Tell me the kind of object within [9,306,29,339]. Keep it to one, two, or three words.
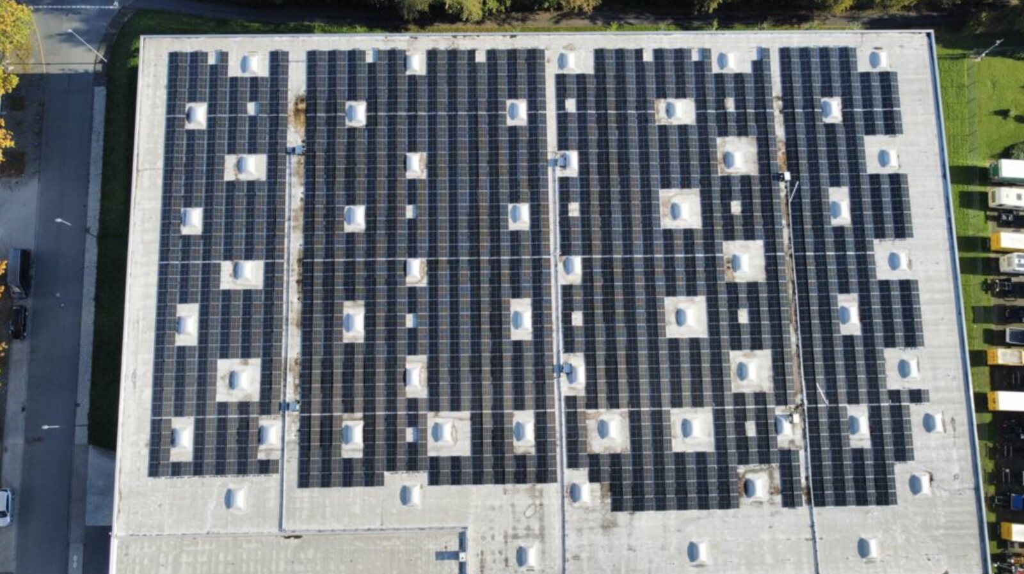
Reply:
car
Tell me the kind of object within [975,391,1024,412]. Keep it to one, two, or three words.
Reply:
truck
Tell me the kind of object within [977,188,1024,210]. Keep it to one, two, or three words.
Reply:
camper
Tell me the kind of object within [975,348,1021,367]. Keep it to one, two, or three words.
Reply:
vehicle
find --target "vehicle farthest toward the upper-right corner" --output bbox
[975,159,1024,183]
